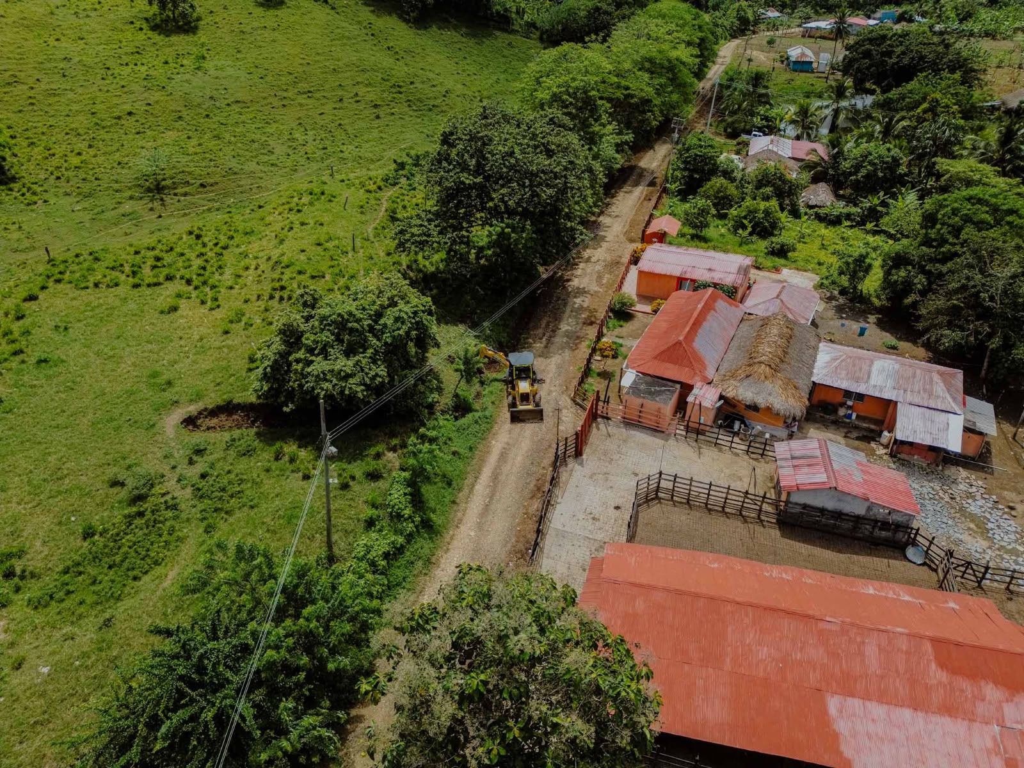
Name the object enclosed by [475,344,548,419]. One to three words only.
work vehicle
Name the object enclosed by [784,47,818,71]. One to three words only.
house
